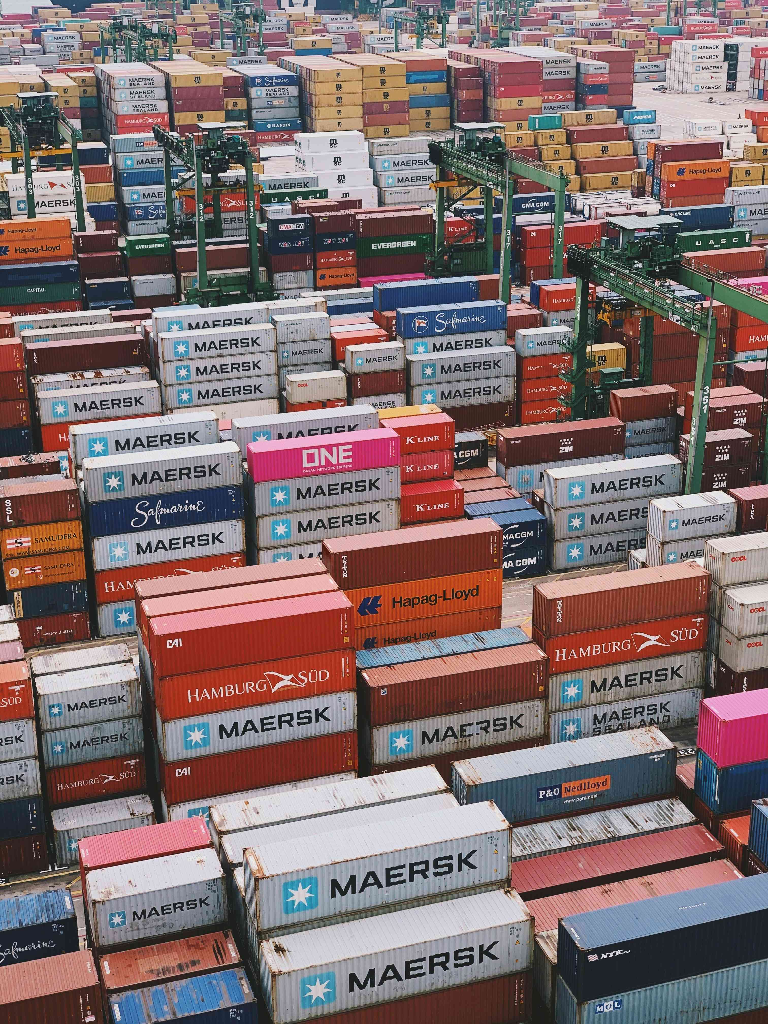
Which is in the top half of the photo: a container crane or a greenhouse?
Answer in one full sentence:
The feature located in the top half of the photo is a container crane.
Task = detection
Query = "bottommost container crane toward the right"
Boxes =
[543,214,768,494]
